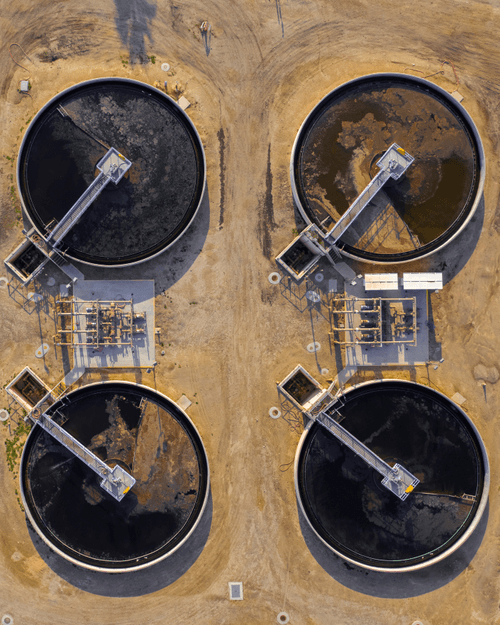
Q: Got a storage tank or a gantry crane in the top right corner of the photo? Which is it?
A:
storage tank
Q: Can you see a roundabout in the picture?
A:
No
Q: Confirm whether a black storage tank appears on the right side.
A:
Yes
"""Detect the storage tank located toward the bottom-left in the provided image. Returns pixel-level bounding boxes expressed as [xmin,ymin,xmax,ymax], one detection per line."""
[20,381,212,574]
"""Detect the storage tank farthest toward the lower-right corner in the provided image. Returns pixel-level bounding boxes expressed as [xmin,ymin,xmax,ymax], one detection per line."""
[296,378,490,571]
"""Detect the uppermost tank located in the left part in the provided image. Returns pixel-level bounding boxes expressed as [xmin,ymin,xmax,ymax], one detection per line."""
[16,76,209,269]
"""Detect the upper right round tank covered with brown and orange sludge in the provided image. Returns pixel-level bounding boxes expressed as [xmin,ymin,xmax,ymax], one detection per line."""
[292,72,485,265]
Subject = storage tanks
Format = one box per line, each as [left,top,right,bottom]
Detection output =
[292,72,485,265]
[296,378,490,571]
[16,76,209,269]
[20,381,212,574]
